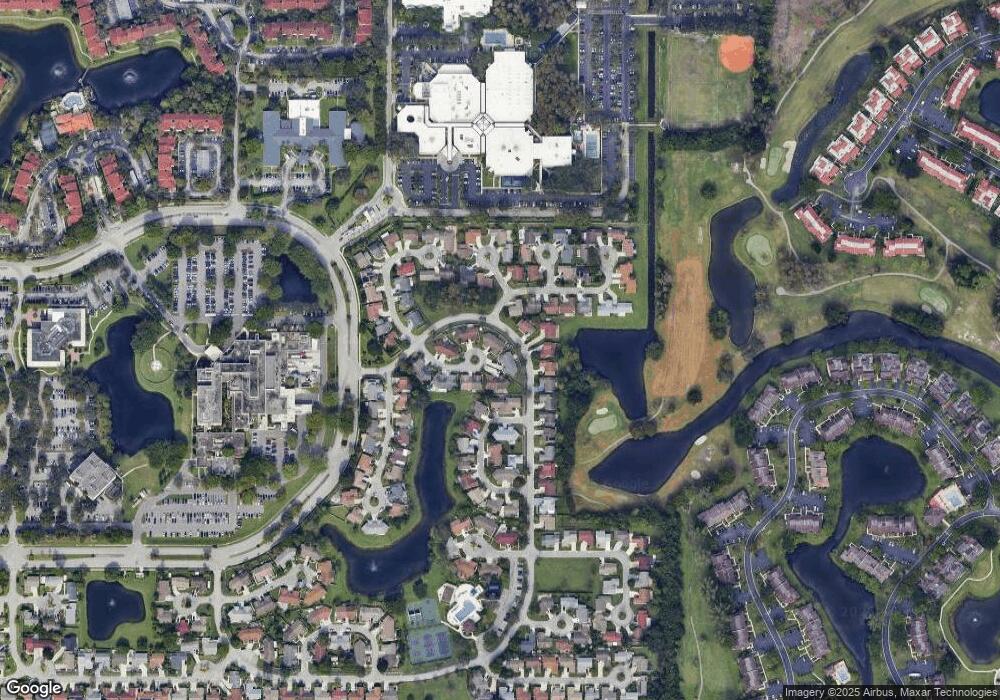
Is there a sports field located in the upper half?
Yes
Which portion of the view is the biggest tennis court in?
bottom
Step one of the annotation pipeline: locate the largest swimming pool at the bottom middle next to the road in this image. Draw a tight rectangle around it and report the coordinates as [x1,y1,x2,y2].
[438,586,482,628]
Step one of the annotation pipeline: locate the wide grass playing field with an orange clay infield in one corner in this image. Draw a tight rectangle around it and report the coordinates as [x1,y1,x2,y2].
[668,33,754,126]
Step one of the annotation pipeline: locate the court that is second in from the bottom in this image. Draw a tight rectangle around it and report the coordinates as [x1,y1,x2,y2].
[407,598,439,627]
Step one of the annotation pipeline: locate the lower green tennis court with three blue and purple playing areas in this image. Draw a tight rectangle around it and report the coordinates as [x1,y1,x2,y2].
[407,625,452,664]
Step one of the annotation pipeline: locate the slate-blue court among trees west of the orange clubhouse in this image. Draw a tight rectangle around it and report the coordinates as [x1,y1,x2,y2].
[38,117,56,146]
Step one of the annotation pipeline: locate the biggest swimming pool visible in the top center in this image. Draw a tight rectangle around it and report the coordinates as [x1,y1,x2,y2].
[583,125,601,158]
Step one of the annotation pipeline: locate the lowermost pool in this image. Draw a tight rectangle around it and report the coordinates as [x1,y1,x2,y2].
[836,660,850,685]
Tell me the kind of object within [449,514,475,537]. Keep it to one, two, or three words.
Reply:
house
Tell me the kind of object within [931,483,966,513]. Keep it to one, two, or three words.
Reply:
swimming pool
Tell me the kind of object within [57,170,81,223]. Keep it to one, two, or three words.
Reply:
building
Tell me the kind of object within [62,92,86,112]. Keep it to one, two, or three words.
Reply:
swimming pool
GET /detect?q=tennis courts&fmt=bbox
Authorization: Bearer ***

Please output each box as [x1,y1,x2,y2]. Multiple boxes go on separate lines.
[38,117,56,146]
[407,598,439,627]
[407,625,452,664]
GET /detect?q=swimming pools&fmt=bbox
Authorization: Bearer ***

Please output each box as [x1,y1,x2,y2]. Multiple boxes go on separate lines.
[438,586,482,628]
[572,129,583,142]
[62,92,86,112]
[836,660,850,685]
[931,483,966,513]
[583,125,601,158]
